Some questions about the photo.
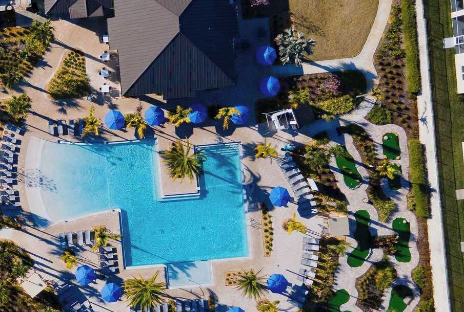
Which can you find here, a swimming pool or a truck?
swimming pool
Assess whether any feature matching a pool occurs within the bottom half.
Yes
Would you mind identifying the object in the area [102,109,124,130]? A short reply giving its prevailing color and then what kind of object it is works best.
blue umbrella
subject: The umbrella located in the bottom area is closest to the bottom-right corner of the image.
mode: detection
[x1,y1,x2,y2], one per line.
[266,272,286,292]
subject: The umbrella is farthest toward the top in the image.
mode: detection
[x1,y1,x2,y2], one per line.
[256,44,276,66]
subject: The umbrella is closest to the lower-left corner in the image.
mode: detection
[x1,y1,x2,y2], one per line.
[75,266,95,285]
